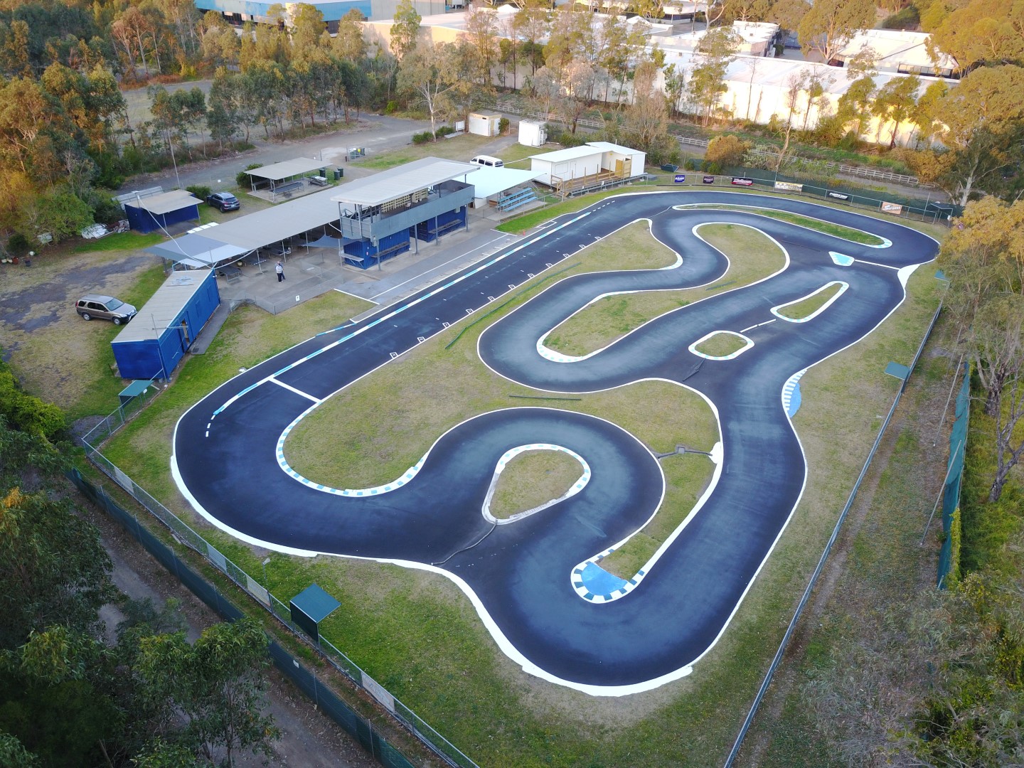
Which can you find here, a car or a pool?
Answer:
car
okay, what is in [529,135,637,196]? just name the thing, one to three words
building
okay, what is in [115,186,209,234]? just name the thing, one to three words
shed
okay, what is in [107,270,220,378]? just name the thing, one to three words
building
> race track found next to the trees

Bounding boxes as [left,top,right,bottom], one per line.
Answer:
[175,191,940,685]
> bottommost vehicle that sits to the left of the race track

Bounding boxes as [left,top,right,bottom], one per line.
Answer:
[72,291,139,326]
